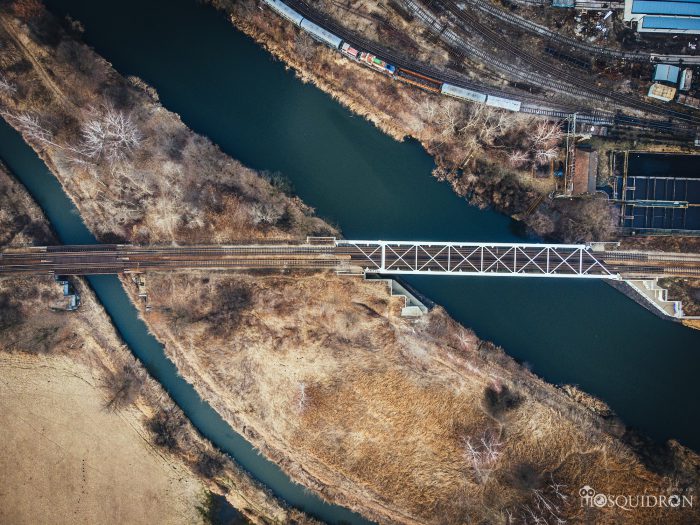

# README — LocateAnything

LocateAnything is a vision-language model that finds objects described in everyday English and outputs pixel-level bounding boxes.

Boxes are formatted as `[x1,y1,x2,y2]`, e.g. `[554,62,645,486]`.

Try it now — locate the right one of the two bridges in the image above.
[334,241,617,278]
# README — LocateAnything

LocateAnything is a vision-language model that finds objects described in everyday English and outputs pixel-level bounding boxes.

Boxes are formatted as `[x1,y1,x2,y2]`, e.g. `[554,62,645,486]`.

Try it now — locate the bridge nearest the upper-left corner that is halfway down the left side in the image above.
[33,245,144,275]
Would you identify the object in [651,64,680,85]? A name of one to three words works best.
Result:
shed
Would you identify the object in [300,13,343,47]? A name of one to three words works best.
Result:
rail car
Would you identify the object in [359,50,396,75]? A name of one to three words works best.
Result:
rail car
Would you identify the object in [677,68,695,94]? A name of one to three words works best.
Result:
shed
